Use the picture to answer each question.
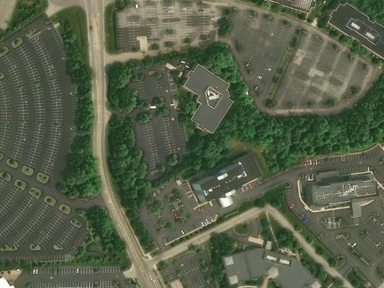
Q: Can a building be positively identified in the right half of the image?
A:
Yes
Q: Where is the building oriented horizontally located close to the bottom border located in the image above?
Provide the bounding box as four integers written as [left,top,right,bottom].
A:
[220,241,322,288]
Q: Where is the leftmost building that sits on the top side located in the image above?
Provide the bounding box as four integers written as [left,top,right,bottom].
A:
[179,64,234,133]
